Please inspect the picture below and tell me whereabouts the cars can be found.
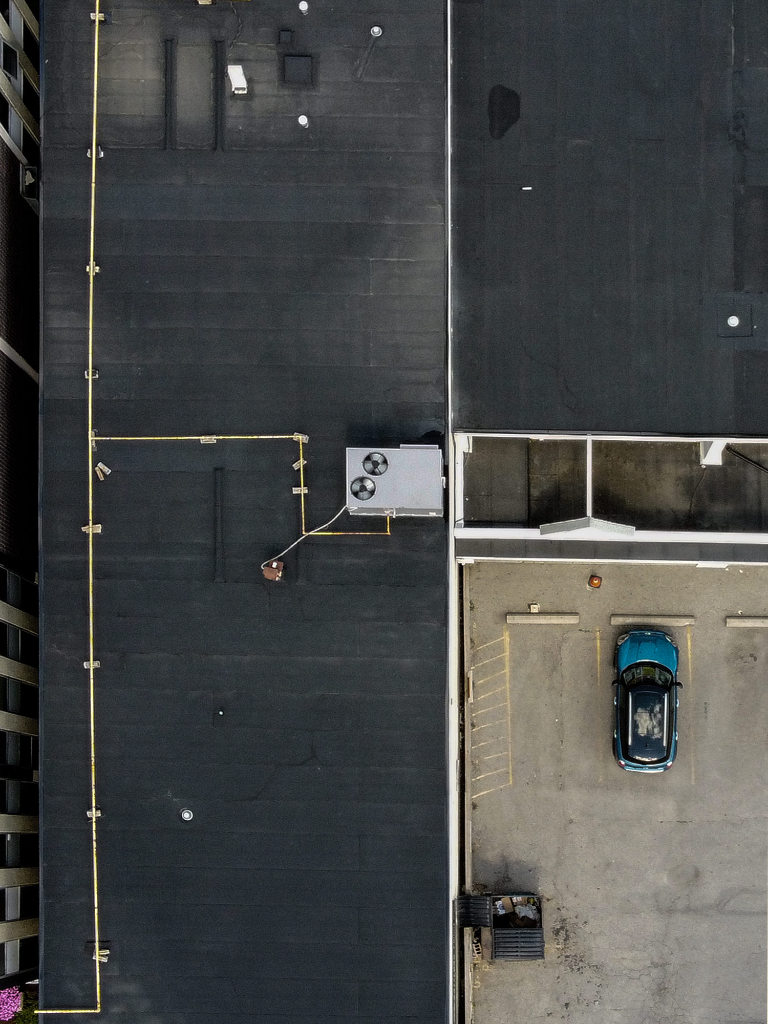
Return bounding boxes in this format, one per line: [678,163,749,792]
[612,630,683,774]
